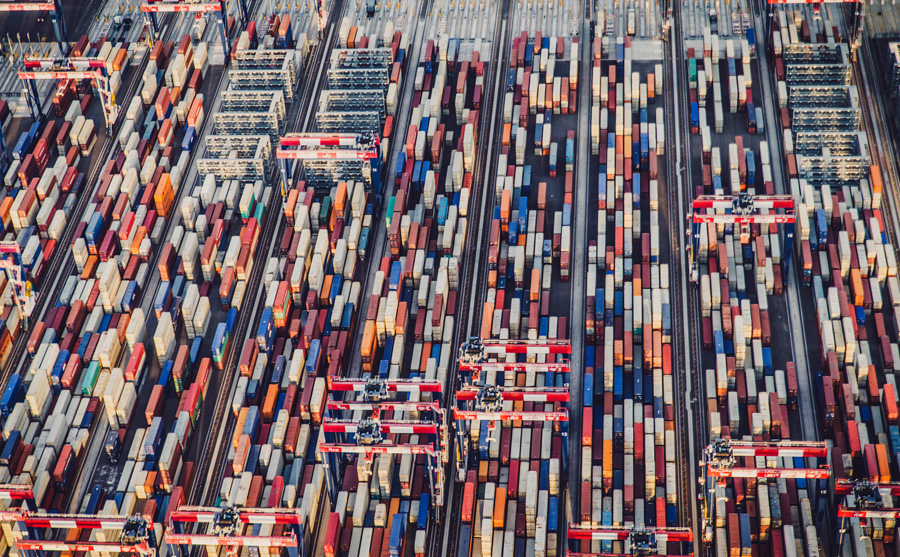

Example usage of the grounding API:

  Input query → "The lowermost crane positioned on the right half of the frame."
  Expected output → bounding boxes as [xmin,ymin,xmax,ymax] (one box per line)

[569,521,694,557]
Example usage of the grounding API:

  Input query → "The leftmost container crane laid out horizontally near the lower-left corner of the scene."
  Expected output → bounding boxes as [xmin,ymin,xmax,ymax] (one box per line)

[26,509,163,557]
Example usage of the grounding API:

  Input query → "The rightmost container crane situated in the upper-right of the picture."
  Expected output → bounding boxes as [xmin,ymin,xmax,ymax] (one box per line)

[765,0,857,57]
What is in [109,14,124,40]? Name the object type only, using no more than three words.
vehicle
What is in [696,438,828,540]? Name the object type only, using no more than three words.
container crane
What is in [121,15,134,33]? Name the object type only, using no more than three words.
vehicle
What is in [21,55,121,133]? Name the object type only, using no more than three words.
container crane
